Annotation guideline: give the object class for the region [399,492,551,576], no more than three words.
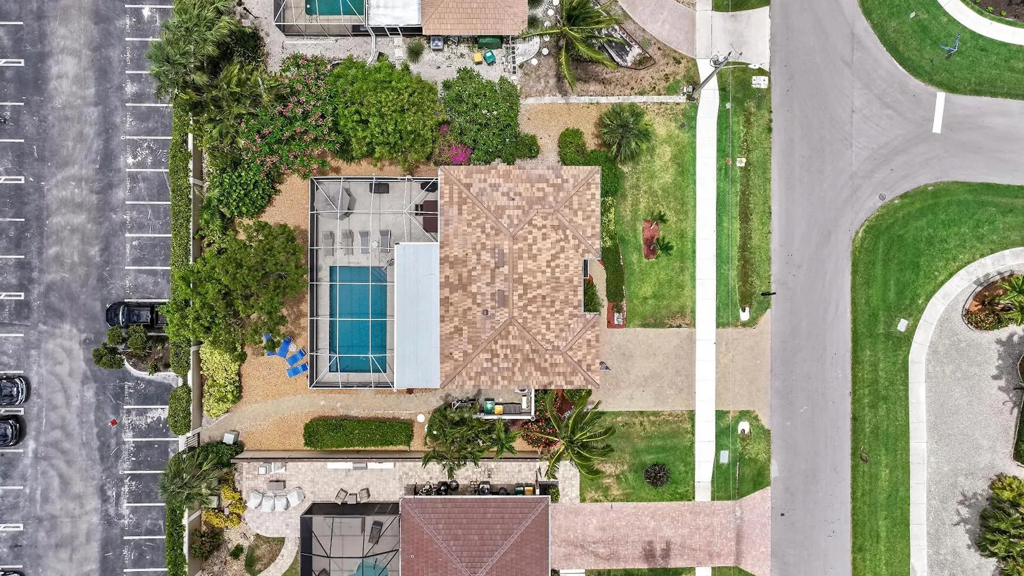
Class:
house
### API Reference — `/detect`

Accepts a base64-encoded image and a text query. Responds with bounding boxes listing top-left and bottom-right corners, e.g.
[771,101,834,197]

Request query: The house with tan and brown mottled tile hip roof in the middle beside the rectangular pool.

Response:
[437,164,602,391]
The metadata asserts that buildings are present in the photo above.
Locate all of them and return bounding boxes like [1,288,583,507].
[437,164,602,391]
[399,492,551,576]
[421,0,528,42]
